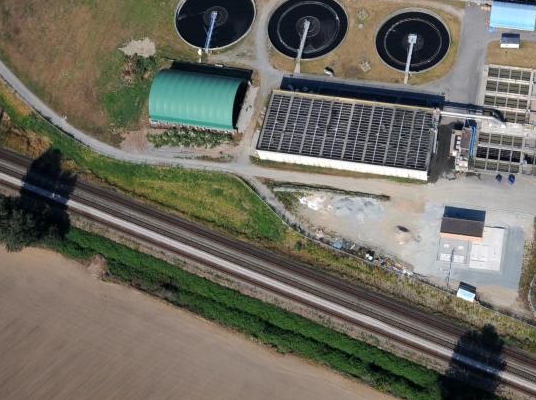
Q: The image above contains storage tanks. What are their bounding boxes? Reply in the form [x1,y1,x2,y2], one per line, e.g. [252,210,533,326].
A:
[174,0,257,53]
[374,8,453,83]
[267,0,350,72]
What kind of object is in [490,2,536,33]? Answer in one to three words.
shed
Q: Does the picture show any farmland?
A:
Yes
